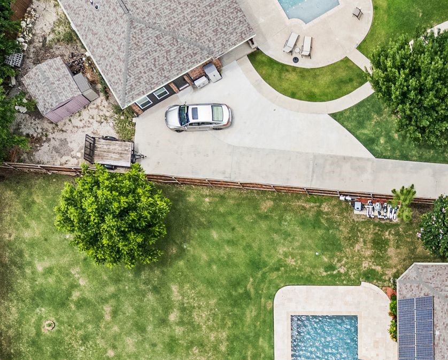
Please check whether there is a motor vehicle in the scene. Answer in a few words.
Yes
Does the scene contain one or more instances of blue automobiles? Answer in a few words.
No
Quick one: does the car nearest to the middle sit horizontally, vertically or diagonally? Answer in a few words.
horizontally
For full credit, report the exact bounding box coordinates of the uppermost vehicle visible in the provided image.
[166,100,233,135]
